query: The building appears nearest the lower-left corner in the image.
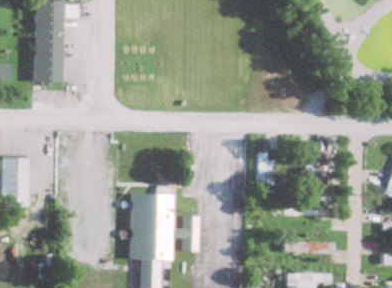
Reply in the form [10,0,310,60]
[2,156,30,209]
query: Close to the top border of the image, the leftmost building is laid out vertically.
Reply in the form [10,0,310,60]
[32,0,64,82]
